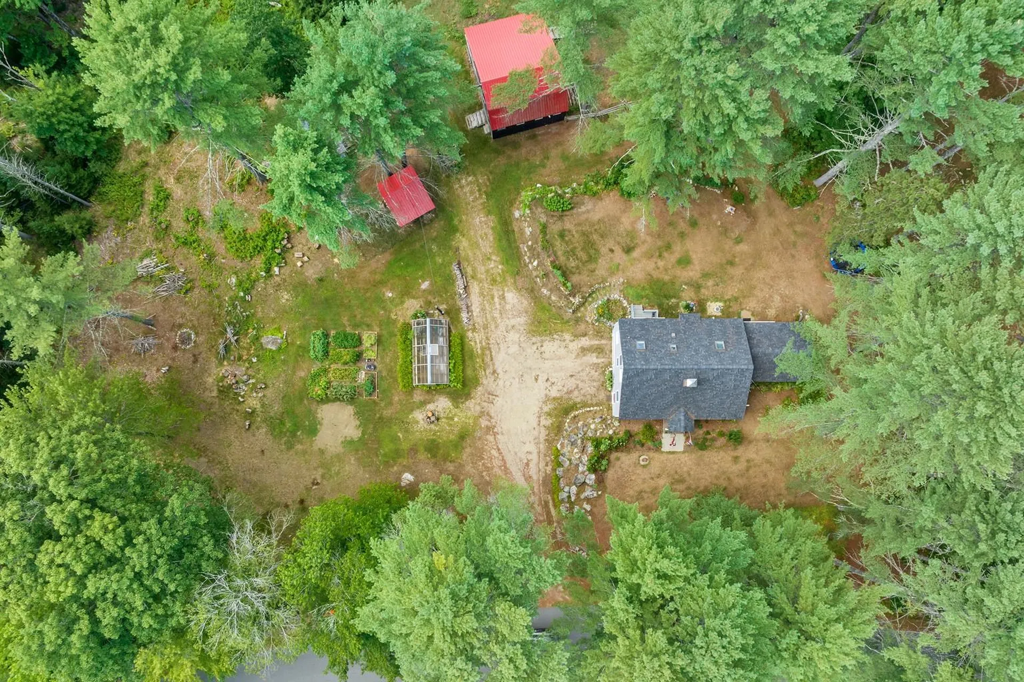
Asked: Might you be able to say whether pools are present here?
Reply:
No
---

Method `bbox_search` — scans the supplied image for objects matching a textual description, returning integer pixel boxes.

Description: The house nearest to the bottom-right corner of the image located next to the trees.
[613,305,819,434]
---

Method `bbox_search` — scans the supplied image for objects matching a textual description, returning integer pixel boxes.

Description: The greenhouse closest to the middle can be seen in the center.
[412,317,451,386]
